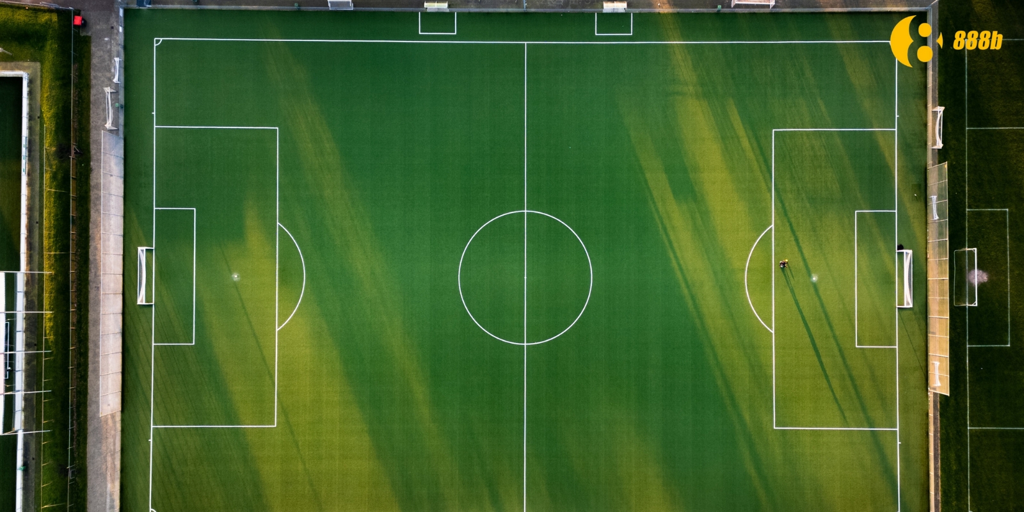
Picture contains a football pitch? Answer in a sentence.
Yes, there is a football pitch in the image.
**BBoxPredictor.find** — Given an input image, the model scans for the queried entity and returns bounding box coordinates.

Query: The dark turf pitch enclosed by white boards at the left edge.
[0,76,28,512]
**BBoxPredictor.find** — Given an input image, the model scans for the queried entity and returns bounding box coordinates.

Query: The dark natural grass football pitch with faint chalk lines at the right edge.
[942,0,1024,512]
